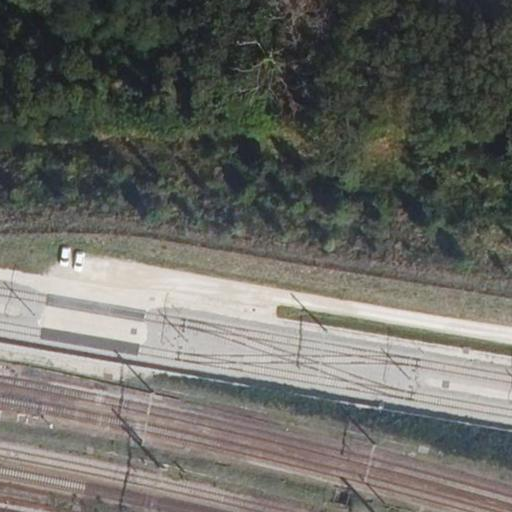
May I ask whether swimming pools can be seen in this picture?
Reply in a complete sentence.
No, there's no swimming pool here.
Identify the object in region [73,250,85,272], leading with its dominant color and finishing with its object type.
white vehicle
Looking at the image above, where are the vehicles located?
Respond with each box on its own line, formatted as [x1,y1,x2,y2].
[60,246,71,268]
[73,250,85,272]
